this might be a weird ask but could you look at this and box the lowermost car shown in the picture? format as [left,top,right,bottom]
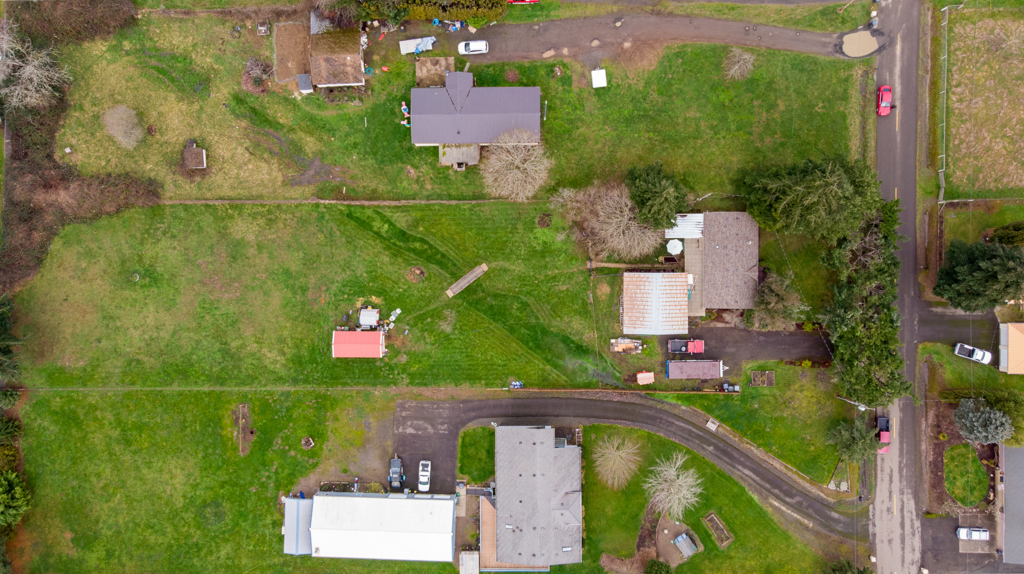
[957,526,992,542]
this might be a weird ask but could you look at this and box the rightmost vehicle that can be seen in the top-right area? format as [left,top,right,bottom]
[876,85,893,116]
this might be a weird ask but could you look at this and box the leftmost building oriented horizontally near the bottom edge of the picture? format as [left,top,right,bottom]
[309,490,455,562]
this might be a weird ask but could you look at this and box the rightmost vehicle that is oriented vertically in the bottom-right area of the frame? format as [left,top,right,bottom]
[874,418,891,454]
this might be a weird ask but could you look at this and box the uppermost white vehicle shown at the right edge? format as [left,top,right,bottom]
[953,343,992,363]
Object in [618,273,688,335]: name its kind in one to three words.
building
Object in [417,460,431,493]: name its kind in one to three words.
vehicle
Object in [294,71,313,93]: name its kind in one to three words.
shed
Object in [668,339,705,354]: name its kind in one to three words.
vehicle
